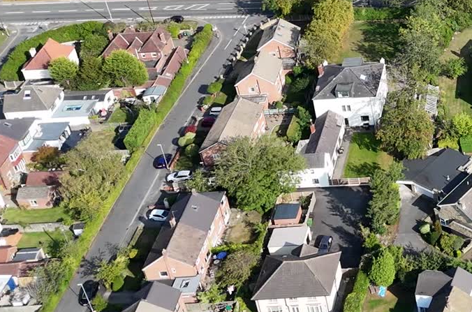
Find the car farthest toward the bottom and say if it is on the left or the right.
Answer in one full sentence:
The car farthest toward the bottom is on the left side of the image.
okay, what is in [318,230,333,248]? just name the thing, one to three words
car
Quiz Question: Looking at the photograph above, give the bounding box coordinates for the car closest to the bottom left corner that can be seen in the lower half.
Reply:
[78,280,98,305]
